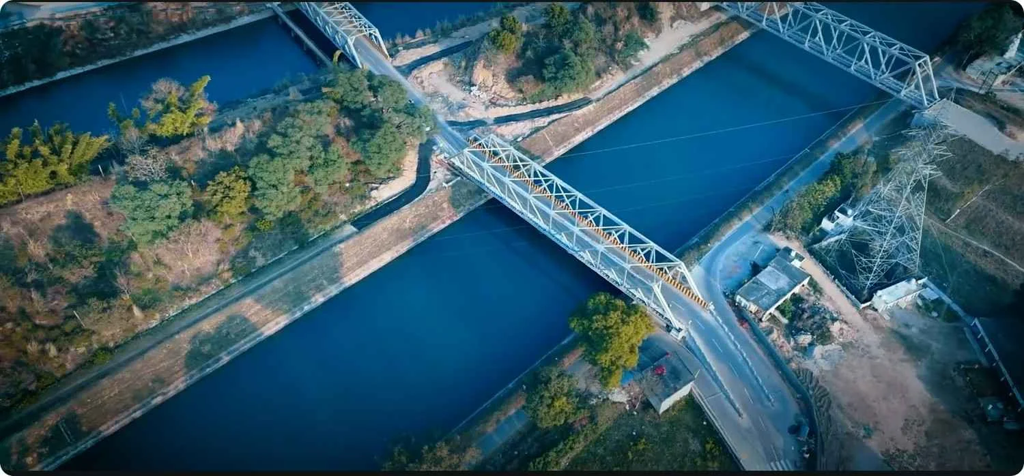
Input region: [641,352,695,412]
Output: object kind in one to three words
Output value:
house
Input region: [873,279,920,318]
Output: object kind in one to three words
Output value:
house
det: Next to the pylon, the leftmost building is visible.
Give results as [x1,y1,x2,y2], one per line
[735,258,810,323]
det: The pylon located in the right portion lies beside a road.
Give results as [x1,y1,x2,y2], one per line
[813,91,965,296]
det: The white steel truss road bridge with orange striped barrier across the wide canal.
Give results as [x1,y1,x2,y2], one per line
[442,134,714,332]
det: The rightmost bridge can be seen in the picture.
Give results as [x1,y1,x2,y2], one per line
[723,0,941,107]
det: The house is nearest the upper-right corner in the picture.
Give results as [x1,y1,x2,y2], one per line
[964,57,1021,90]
